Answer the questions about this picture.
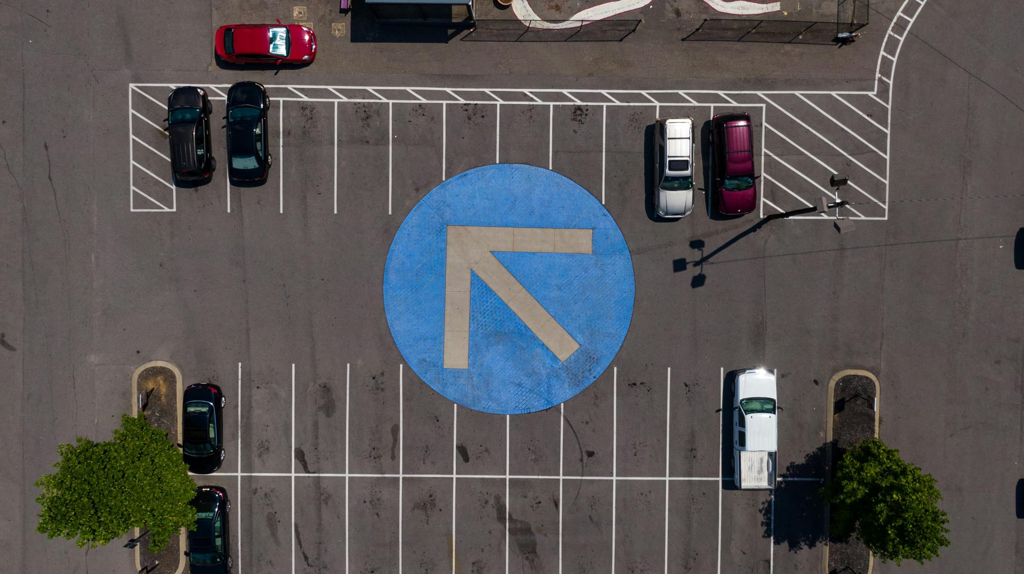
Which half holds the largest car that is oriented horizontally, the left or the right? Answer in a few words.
left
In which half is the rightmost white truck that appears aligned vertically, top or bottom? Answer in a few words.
bottom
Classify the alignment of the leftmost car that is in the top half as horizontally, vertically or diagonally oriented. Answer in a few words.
vertically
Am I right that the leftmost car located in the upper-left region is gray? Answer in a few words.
No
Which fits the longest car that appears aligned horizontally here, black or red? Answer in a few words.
red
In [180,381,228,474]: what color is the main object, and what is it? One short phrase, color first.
black car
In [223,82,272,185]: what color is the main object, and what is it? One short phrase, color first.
black car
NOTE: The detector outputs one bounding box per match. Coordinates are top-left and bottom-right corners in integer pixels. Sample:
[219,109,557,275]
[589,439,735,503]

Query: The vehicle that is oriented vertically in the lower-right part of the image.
[731,368,783,491]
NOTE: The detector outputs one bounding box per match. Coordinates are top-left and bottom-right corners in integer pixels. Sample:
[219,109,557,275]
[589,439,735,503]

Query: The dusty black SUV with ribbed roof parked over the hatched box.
[165,88,218,183]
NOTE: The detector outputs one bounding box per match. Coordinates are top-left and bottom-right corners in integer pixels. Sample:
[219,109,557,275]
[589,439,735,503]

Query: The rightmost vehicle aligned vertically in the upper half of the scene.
[710,113,762,215]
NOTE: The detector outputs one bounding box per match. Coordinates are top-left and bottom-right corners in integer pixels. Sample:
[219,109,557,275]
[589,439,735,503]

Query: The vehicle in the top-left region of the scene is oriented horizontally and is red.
[214,19,318,66]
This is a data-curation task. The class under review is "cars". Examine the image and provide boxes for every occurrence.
[186,483,235,574]
[214,19,318,66]
[180,381,228,474]
[223,82,272,185]
[710,113,762,215]
[652,118,699,218]
[165,88,218,183]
